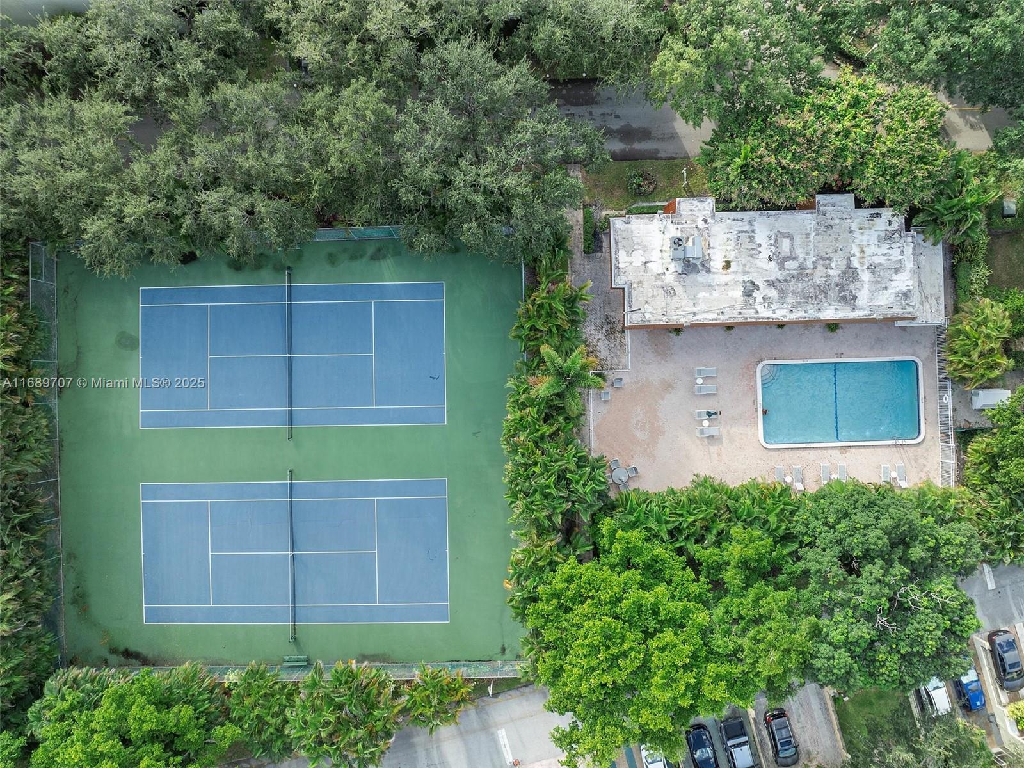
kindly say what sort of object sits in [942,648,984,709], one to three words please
car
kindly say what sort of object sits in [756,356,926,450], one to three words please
swimming pool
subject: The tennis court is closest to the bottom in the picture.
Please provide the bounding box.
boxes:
[141,479,449,625]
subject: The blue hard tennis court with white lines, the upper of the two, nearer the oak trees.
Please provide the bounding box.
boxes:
[139,282,446,428]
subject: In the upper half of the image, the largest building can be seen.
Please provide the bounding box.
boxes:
[607,194,946,329]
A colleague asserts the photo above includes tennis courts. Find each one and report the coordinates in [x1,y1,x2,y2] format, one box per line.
[141,479,449,625]
[139,282,446,428]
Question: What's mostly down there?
trees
